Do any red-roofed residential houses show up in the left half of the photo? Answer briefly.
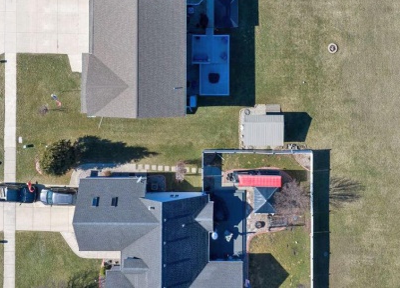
No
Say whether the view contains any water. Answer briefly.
No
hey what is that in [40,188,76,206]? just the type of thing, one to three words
car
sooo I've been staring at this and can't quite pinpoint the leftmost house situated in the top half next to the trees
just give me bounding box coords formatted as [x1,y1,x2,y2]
[80,0,188,129]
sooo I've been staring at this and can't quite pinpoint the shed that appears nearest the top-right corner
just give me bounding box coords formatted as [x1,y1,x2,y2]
[245,115,286,148]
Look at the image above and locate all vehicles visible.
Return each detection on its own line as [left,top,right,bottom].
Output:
[0,184,38,203]
[40,188,76,206]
